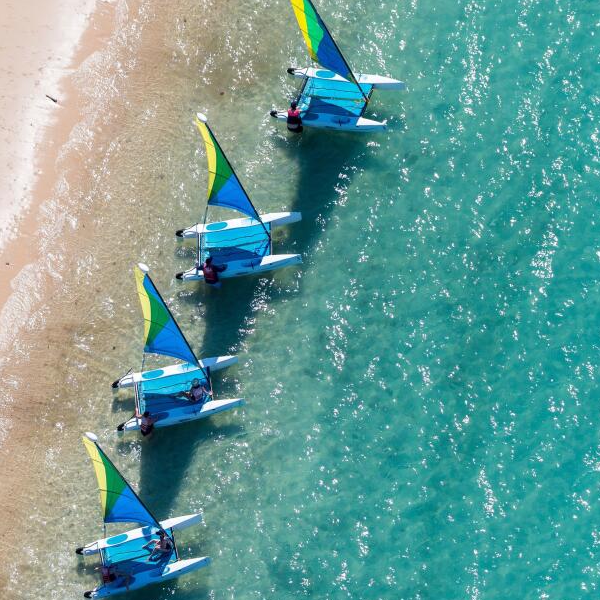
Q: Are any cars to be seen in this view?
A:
No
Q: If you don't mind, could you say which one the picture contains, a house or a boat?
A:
boat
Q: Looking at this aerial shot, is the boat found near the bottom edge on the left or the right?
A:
left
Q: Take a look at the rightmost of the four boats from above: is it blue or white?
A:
blue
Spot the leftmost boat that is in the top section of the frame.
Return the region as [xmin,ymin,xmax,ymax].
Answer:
[176,113,304,283]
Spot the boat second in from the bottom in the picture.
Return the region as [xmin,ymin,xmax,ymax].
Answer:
[112,264,247,434]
